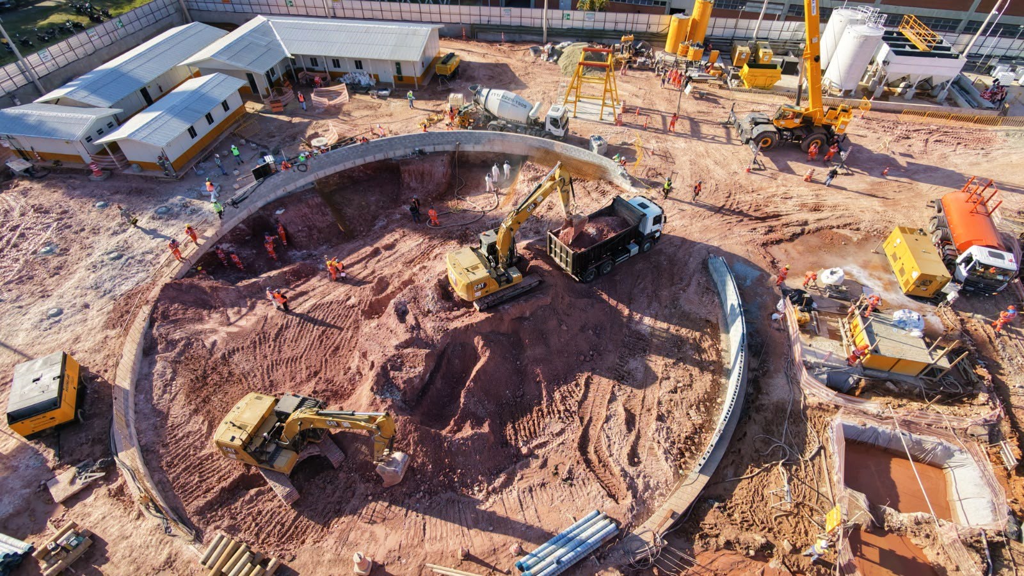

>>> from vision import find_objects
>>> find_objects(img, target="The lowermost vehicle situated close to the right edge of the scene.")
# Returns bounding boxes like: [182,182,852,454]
[926,182,1024,311]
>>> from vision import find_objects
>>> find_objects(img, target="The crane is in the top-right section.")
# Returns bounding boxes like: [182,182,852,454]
[730,0,842,170]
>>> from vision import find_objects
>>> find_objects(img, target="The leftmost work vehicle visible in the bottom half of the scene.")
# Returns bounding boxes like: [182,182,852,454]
[217,392,421,500]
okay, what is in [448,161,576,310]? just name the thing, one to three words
work vehicle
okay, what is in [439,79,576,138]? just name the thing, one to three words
truck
